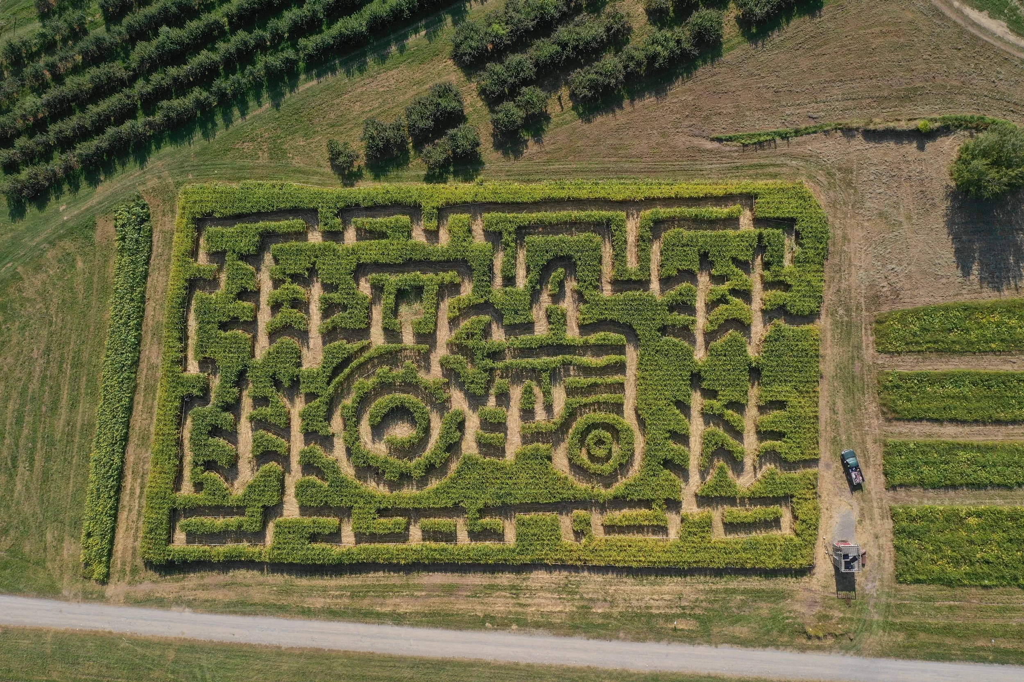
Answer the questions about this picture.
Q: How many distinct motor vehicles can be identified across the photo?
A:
1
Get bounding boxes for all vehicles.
[840,448,865,487]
